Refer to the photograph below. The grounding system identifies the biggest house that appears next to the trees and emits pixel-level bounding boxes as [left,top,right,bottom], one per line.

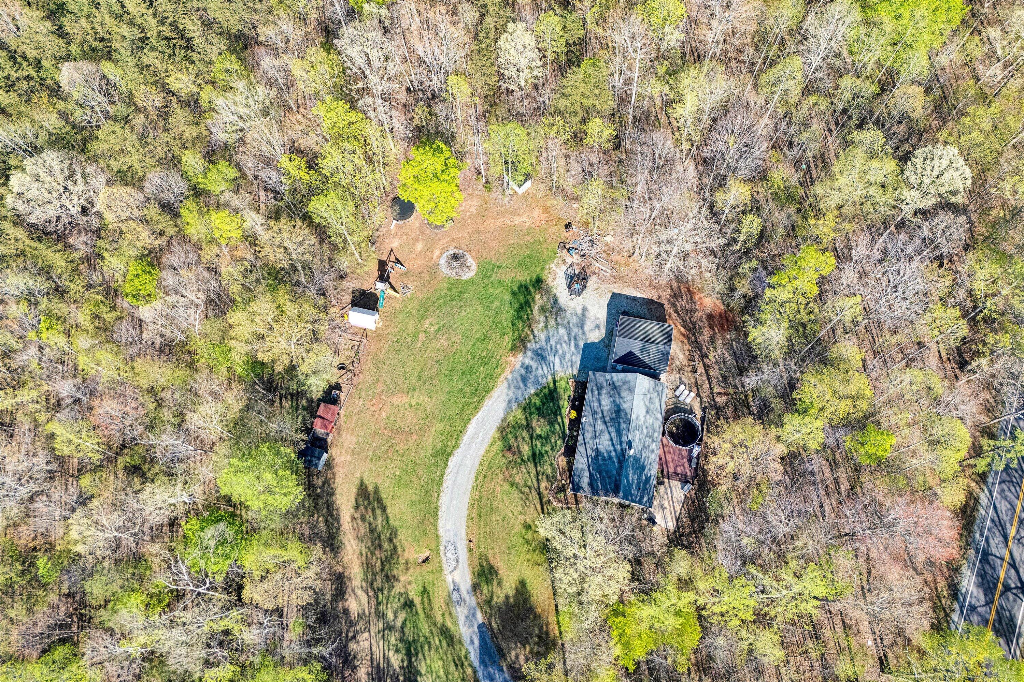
[569,371,668,509]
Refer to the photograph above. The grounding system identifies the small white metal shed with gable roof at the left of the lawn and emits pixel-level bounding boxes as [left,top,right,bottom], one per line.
[350,307,381,326]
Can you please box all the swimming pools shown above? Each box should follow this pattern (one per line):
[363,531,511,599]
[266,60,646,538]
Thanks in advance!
[663,412,703,451]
